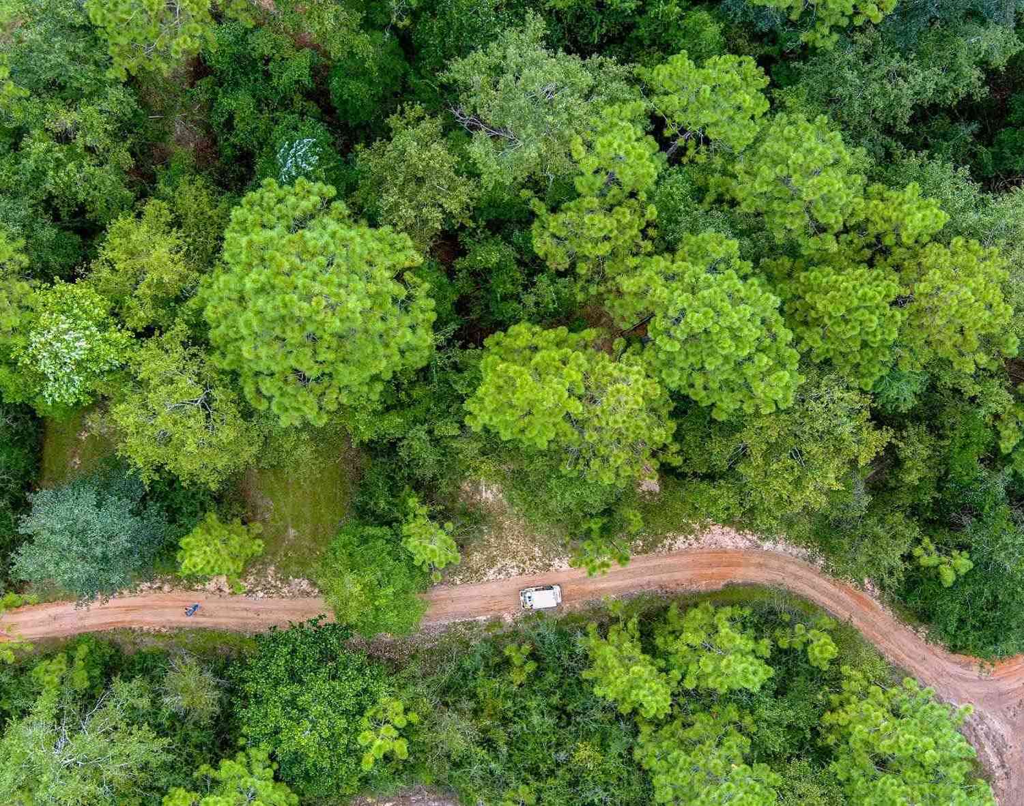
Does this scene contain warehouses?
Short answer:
No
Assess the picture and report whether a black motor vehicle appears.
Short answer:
No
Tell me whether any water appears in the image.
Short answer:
No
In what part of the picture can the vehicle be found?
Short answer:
bottom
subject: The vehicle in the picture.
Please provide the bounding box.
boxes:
[520,582,561,609]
